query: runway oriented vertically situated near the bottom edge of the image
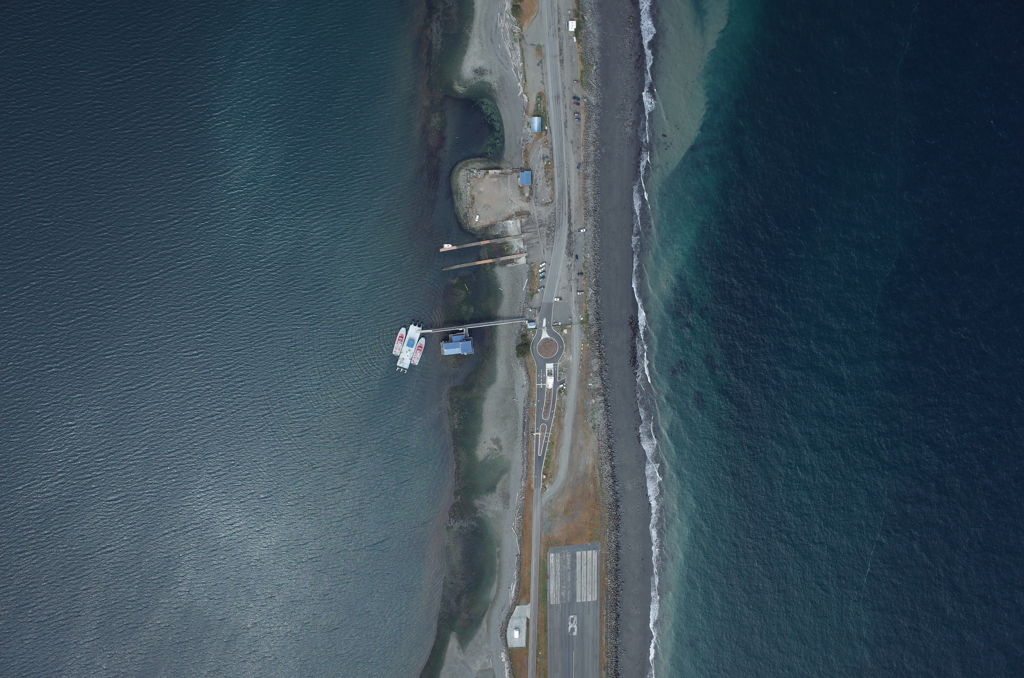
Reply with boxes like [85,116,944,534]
[547,543,600,678]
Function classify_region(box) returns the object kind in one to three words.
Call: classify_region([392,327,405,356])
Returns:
boat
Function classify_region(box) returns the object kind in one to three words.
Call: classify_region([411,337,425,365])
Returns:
boat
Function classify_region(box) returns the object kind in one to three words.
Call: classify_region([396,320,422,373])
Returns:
ship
